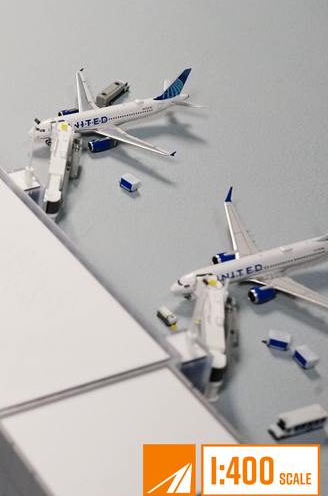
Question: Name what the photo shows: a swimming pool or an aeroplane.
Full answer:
The one in the frame is an aeroplane.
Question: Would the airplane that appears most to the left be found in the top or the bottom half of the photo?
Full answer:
The top half of the photo is where the airplane that appears most to the left is.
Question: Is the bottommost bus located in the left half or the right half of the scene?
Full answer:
It is on the right.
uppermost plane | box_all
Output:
[27,67,211,156]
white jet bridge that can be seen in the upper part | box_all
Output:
[43,119,82,228]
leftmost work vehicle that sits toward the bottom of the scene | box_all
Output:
[157,307,178,327]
